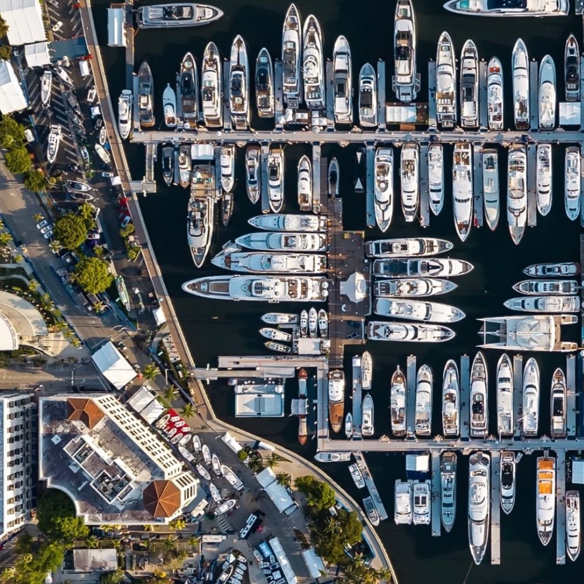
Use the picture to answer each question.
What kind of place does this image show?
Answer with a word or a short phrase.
port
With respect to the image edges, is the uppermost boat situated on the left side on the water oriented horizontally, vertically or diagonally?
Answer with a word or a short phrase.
horizontally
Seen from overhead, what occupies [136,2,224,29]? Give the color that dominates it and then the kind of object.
gray boat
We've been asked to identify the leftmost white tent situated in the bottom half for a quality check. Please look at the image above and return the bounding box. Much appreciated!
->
[91,340,142,387]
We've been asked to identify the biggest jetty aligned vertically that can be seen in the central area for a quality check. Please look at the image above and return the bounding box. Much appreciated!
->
[328,231,372,345]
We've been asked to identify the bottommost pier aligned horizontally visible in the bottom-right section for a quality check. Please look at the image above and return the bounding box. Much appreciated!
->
[328,438,584,451]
